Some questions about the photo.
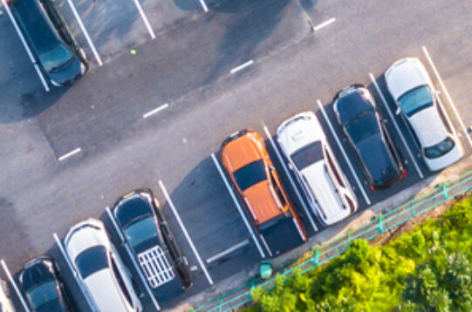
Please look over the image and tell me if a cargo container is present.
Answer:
No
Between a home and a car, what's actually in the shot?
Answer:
car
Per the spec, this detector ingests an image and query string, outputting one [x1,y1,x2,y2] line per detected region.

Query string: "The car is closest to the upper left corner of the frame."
[6,0,89,89]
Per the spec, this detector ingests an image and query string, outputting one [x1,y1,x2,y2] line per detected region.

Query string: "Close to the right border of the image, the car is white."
[385,55,464,175]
